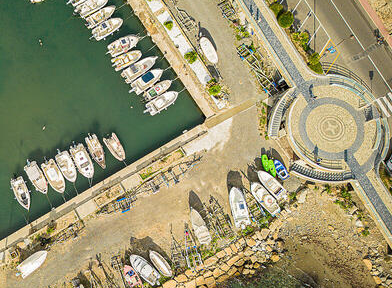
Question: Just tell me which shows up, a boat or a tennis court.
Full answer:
Visible in the photo is a boat.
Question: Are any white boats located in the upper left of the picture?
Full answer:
Yes, looking in the upper left of the picture, one can make out a white boat.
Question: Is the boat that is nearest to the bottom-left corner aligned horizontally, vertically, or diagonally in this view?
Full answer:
The boat that is nearest to the bottom-left corner has been laid out diagonally relative to the frame.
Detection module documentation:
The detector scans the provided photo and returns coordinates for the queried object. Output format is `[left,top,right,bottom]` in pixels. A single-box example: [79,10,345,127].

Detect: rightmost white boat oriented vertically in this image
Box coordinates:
[229,188,250,232]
